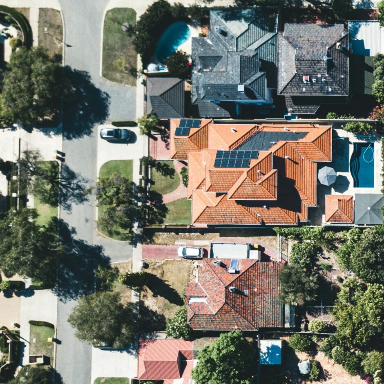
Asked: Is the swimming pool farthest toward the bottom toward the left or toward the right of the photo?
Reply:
right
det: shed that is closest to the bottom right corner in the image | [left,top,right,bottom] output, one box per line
[259,339,285,365]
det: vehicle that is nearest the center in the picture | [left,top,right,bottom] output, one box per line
[178,245,205,258]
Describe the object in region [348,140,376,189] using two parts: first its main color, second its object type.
blue swimming pool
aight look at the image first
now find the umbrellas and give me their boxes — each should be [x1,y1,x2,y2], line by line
[319,167,336,185]
[354,194,384,224]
